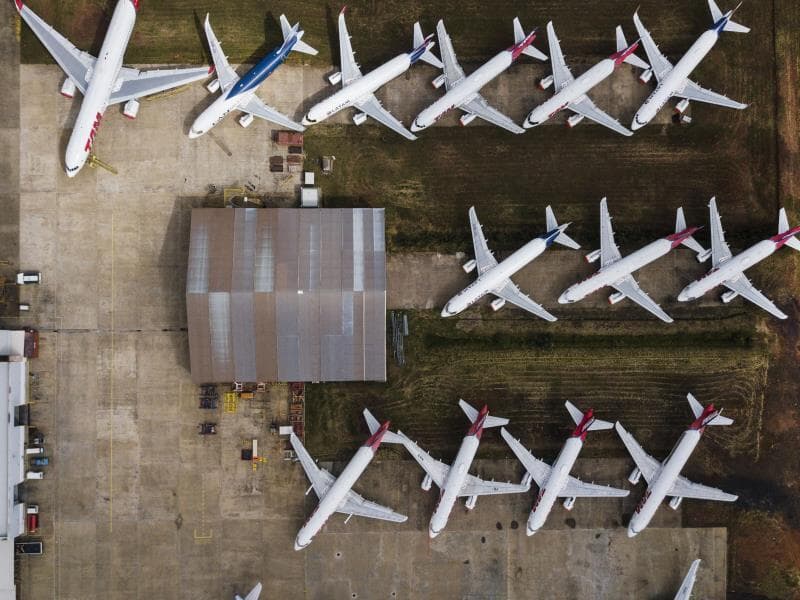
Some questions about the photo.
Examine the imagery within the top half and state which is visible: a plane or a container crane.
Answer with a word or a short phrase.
plane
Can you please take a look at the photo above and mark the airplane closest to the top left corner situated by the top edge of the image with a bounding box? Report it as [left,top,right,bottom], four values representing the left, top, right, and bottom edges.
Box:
[16,0,220,177]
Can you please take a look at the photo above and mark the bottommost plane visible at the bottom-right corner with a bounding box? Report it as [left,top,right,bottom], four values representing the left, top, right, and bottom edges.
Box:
[670,559,703,600]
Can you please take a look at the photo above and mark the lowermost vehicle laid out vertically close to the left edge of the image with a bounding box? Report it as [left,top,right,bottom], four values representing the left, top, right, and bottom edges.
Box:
[27,505,39,532]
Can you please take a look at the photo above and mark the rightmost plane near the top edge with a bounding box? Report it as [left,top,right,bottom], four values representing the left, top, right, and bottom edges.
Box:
[630,0,758,130]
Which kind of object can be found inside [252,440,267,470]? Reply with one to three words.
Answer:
work vehicle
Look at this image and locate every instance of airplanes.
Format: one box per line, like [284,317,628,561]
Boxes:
[291,409,410,548]
[630,0,758,130]
[301,4,447,138]
[235,581,262,600]
[398,398,532,535]
[441,203,583,321]
[677,193,800,319]
[558,195,709,322]
[670,559,703,600]
[16,0,220,177]
[523,16,653,136]
[502,399,632,534]
[189,11,320,139]
[410,14,551,133]
[616,392,742,535]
